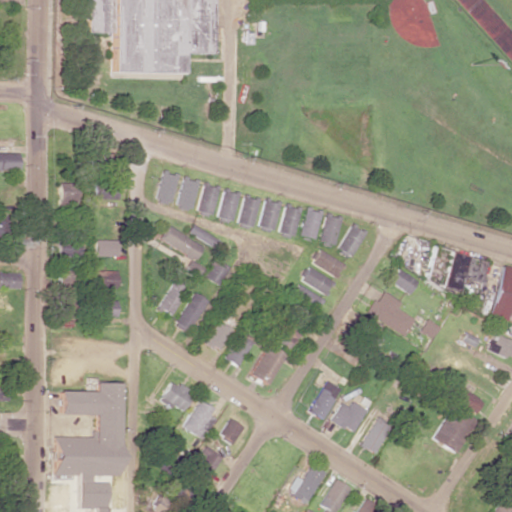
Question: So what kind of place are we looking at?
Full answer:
This looks like a residential area.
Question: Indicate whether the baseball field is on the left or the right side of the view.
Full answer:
The baseball field is on the right side of the image.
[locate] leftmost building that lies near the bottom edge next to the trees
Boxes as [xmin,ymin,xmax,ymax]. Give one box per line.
[52,382,131,512]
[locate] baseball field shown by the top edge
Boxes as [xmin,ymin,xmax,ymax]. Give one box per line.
[389,0,440,48]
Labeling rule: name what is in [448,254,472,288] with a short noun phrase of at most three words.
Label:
shed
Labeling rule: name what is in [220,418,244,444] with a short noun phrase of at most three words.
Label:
house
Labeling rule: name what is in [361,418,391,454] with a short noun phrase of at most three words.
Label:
house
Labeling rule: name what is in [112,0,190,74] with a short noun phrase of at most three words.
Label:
building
